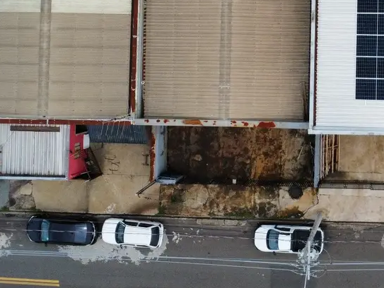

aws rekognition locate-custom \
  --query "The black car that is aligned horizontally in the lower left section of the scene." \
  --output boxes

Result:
[28,214,100,247]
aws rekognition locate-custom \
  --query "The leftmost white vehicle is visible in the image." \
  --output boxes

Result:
[103,216,168,249]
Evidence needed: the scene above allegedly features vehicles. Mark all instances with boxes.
[255,223,324,255]
[28,214,100,247]
[103,216,168,249]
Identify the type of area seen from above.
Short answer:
industrial area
